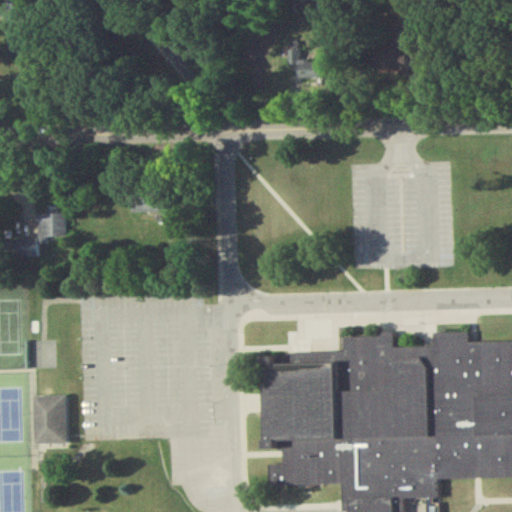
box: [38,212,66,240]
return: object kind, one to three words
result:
house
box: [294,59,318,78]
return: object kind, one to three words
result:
house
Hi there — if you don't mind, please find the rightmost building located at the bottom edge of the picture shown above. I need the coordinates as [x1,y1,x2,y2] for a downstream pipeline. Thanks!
[259,326,512,512]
